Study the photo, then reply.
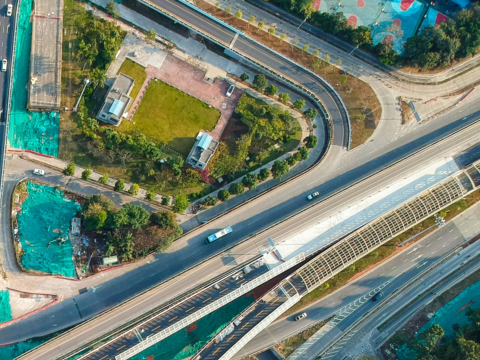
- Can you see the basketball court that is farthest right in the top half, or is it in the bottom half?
top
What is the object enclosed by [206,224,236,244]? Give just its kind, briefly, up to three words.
bus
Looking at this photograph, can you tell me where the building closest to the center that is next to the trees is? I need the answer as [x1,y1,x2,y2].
[182,129,220,175]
